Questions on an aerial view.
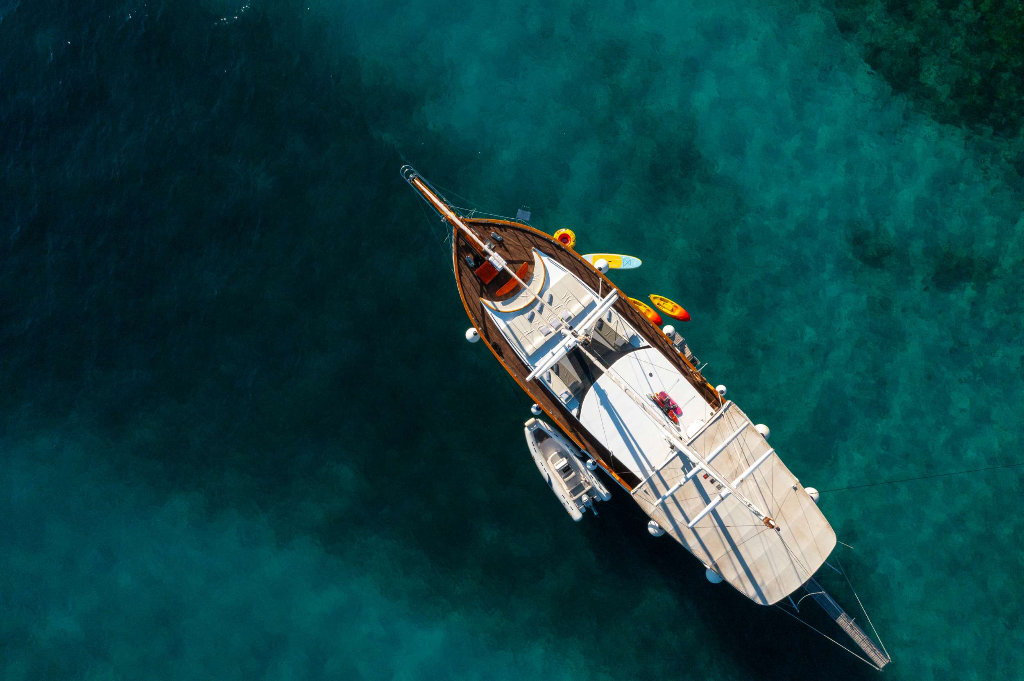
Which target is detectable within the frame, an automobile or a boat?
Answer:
boat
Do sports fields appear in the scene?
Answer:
No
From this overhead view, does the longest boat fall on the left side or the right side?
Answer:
right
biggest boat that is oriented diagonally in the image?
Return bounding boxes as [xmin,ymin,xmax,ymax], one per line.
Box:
[401,162,1022,670]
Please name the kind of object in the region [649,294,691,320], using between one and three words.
boat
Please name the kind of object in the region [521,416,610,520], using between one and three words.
boat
